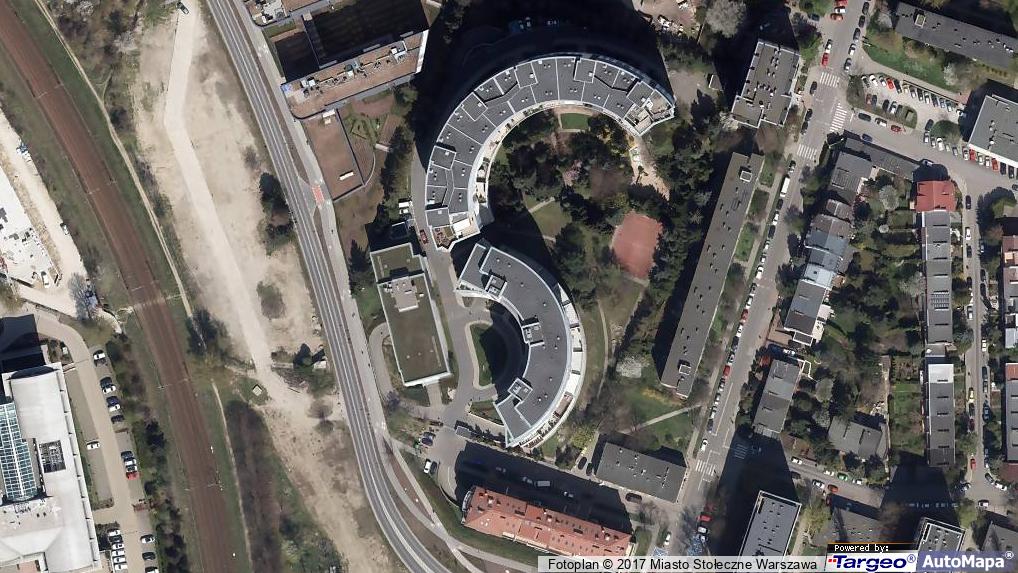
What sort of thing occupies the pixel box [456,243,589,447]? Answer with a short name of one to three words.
building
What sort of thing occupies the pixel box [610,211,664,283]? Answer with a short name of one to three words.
sports court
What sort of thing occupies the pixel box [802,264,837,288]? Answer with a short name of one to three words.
house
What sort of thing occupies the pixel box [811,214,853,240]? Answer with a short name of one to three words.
house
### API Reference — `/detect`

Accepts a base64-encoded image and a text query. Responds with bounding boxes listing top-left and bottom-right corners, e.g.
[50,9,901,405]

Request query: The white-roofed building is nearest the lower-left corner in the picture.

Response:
[0,362,105,573]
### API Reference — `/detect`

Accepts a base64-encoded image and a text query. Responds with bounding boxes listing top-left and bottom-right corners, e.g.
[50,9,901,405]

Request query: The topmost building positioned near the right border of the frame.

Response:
[895,3,1018,72]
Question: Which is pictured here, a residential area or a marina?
residential area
